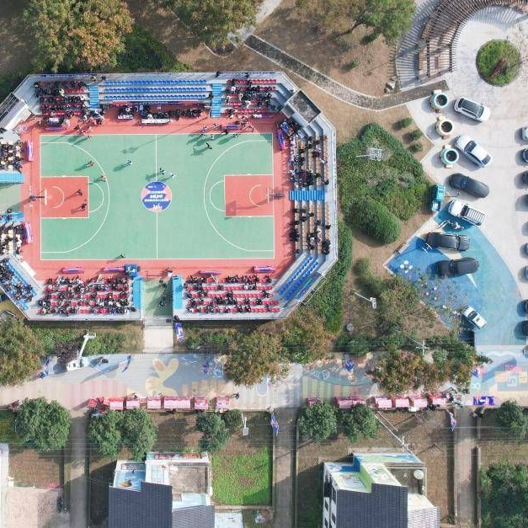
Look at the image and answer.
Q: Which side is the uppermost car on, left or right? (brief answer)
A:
right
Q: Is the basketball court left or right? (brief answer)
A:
left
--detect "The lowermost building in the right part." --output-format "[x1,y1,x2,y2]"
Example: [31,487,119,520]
[324,445,441,528]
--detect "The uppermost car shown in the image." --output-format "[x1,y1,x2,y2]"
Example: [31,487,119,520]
[452,94,493,125]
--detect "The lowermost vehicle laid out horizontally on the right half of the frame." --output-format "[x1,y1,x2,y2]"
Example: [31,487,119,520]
[437,256,480,278]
